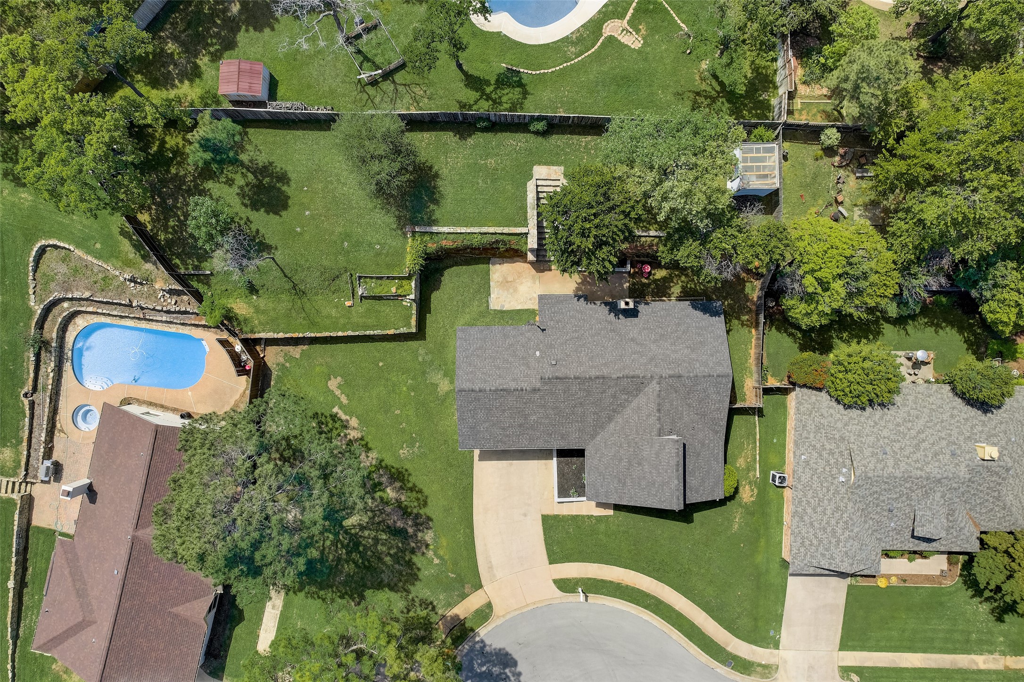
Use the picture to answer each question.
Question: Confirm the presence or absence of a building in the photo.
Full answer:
Yes, the frame does contain a building.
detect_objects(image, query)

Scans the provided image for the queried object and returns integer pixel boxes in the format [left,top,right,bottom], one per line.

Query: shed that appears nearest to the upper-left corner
[219,59,269,103]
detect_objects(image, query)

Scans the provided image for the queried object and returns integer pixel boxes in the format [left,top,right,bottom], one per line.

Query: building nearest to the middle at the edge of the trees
[456,294,732,511]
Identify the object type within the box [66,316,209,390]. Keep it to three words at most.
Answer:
swimming pool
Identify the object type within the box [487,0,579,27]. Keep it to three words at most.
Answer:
swimming pool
